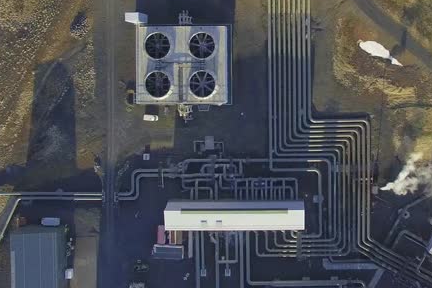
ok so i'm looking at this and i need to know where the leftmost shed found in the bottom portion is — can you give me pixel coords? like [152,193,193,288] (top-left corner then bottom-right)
[12,225,67,288]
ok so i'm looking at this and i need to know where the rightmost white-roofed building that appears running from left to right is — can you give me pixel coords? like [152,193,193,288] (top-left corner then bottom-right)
[165,202,304,231]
